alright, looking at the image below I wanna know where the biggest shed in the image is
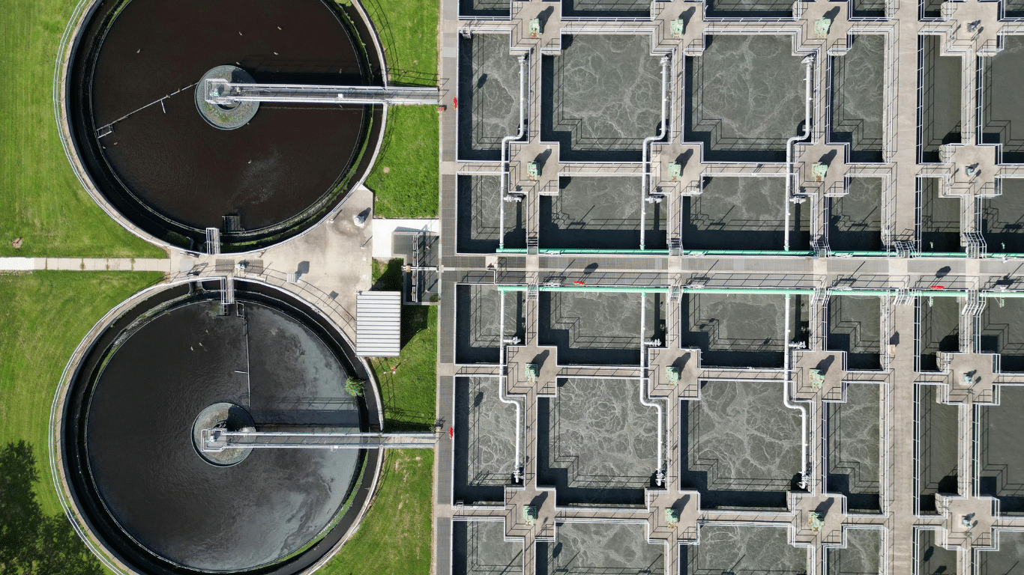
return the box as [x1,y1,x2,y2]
[356,290,401,358]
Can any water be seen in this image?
Yes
